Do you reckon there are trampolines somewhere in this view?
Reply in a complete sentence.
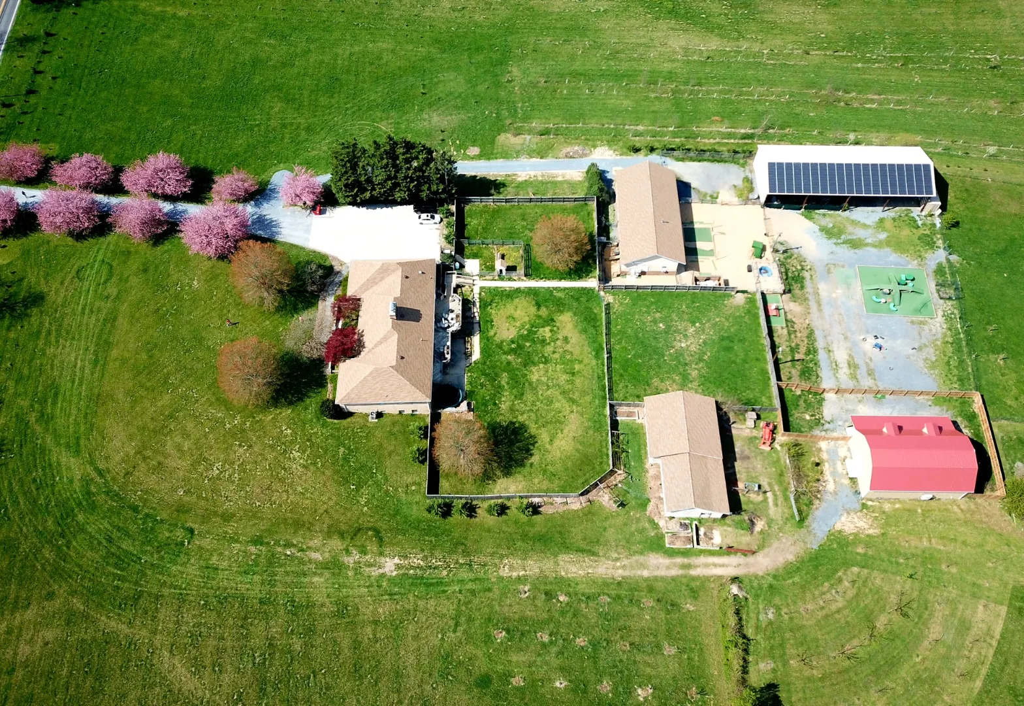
Yes, a trampoline appears in the view.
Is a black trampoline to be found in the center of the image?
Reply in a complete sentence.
Yes, a black trampoline shows up in the center of the image.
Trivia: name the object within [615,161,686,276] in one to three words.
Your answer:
barn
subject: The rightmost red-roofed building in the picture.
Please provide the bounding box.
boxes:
[850,412,976,500]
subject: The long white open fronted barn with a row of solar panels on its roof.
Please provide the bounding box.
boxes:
[756,145,936,207]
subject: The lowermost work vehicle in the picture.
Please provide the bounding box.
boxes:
[763,420,778,449]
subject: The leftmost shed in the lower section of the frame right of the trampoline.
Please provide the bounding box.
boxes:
[643,390,730,519]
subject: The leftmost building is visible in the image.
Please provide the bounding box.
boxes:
[335,259,436,414]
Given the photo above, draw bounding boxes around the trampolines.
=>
[432,381,459,407]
